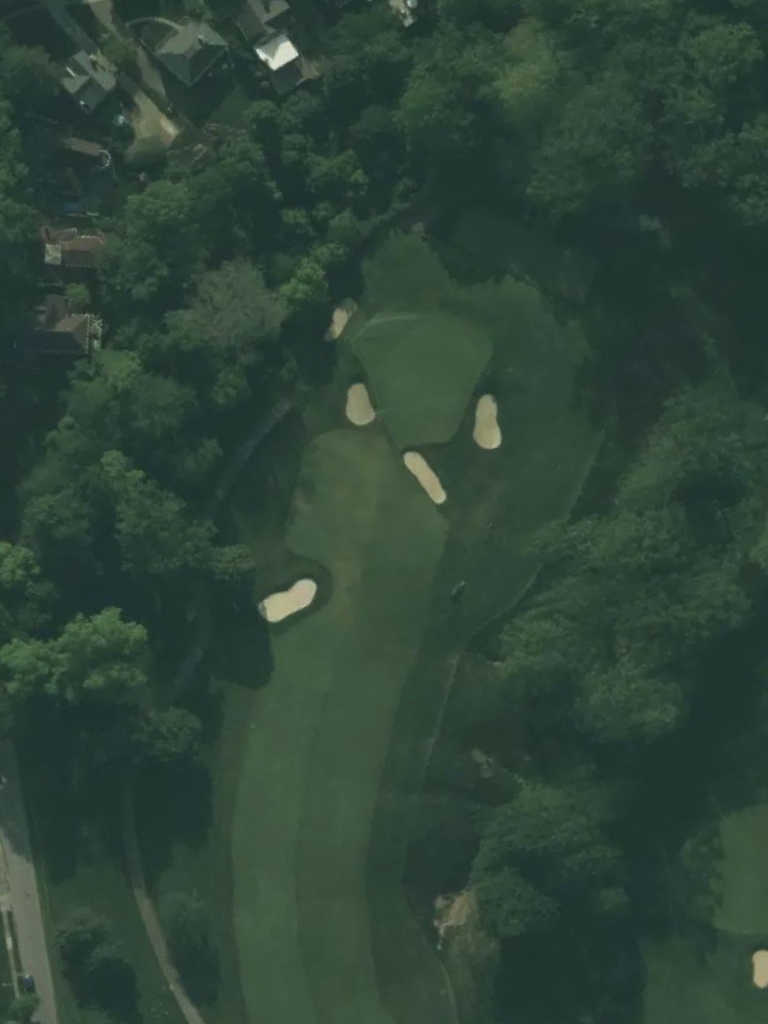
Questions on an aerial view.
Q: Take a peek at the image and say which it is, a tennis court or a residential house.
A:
residential house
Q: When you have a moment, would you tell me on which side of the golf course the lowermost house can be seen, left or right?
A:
to the left of it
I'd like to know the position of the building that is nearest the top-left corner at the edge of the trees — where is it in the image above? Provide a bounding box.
[60,44,115,109]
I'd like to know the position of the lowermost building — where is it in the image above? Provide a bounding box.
[30,292,102,353]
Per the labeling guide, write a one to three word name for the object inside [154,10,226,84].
house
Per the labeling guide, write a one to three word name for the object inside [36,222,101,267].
house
